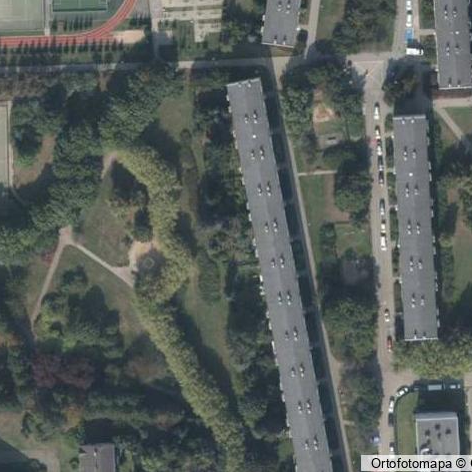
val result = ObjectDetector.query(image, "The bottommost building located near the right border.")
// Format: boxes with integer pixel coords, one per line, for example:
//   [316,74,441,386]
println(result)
[412,413,459,472]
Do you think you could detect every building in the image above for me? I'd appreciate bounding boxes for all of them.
[412,413,459,472]
[430,0,472,90]
[77,444,116,472]
[391,116,440,340]
[225,78,331,472]
[259,0,301,49]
